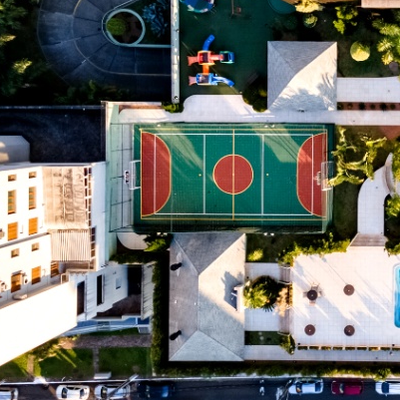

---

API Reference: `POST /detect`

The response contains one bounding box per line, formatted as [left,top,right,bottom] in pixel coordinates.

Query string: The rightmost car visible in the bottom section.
[375,382,400,396]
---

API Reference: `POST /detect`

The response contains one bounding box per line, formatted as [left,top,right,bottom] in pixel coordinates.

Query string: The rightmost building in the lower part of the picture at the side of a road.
[166,233,256,361]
